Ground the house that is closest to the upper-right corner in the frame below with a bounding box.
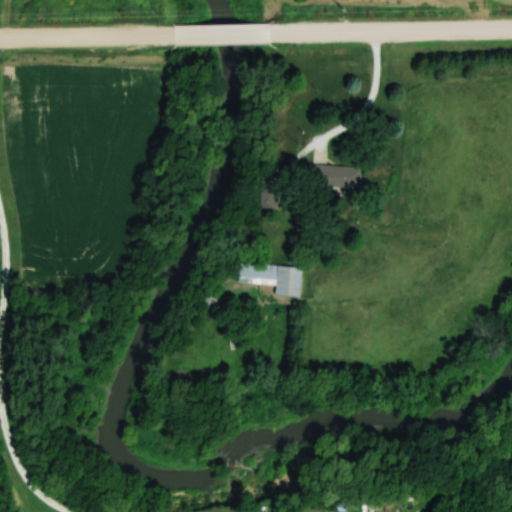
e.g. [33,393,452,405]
[314,162,362,190]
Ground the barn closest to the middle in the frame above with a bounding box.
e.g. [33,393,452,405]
[240,262,303,298]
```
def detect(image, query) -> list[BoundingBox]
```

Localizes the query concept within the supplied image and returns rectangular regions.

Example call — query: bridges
[170,22,276,49]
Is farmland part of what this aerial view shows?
Yes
